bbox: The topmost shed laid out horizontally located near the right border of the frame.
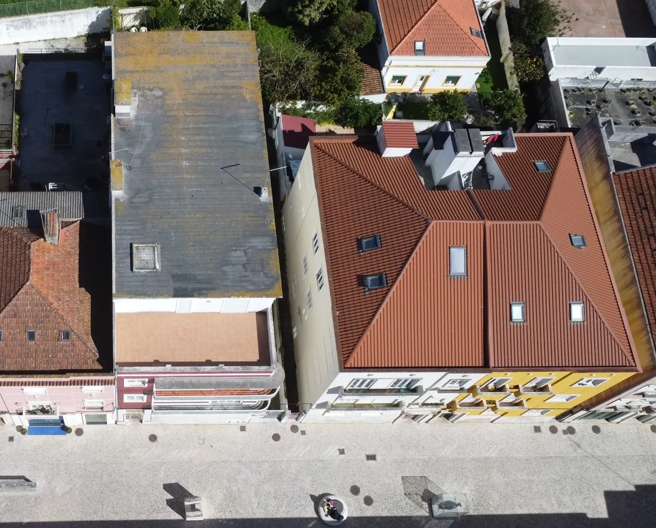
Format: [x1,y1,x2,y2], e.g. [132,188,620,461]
[529,38,656,95]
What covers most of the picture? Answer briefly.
buildings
